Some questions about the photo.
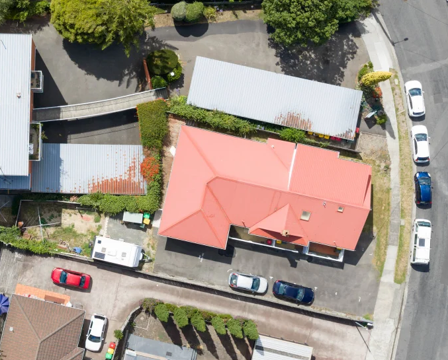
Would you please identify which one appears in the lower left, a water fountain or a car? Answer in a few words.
car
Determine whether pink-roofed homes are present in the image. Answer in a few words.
Yes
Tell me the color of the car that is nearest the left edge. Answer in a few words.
red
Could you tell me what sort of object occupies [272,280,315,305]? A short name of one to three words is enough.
car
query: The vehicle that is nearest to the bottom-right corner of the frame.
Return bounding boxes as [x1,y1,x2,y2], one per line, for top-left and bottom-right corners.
[409,219,436,268]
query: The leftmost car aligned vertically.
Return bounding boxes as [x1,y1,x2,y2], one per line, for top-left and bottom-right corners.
[86,313,107,353]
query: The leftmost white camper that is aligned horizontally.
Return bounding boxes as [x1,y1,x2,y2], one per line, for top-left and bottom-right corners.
[91,235,151,267]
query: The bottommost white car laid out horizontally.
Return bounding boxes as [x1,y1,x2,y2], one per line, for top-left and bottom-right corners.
[227,273,269,295]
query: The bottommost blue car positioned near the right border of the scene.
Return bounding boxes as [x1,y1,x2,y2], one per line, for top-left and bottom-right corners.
[412,172,433,206]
